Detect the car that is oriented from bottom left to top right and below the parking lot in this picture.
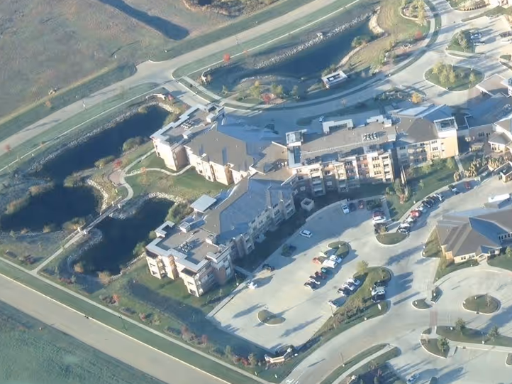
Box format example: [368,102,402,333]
[406,371,420,384]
